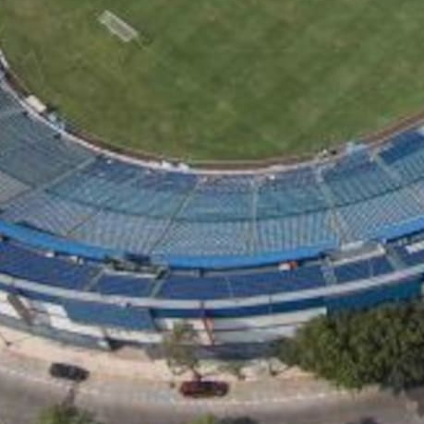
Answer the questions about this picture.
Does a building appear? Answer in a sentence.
No, this view has no building in it.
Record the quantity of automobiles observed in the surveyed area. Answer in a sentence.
In total, there are 2 automobiles in the scene.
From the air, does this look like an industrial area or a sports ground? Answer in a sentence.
This looks like a sports ground.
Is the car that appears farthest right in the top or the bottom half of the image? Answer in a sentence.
It is in the bottom half that the car that appears farthest right appears.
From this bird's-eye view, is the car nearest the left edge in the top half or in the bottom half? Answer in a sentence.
Seen from above, the car nearest the left edge lies in the bottom half of the view.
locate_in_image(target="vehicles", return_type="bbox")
[47,360,89,384]
[183,379,224,400]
